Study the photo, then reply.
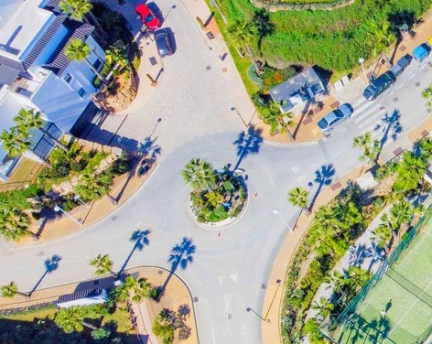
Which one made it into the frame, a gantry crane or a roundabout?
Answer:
roundabout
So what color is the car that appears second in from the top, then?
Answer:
blue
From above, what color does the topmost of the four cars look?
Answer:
red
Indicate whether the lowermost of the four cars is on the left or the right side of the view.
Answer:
right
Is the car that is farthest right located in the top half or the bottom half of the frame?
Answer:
top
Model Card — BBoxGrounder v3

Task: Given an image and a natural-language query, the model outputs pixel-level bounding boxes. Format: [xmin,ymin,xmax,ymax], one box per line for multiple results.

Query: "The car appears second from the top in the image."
[153,29,175,58]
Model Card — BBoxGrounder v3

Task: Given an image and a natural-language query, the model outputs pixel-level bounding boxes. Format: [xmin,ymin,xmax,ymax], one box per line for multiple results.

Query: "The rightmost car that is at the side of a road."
[363,70,398,101]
